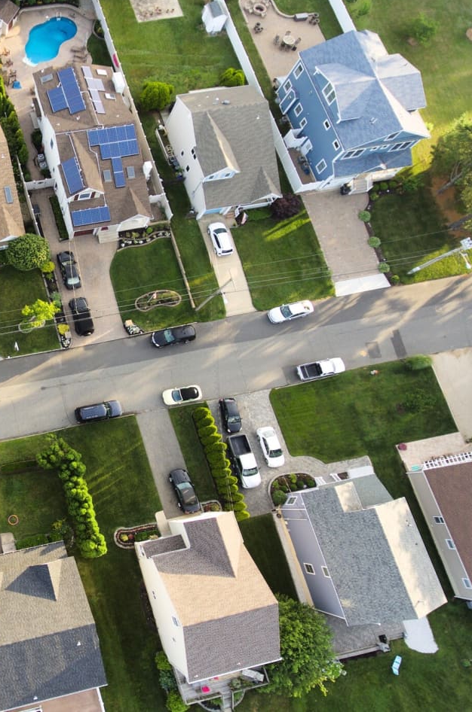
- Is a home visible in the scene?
Yes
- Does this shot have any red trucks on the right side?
No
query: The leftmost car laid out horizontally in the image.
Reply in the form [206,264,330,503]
[73,399,123,423]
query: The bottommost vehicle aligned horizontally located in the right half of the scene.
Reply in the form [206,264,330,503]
[293,355,346,383]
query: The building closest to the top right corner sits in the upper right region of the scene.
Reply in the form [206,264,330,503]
[283,19,428,200]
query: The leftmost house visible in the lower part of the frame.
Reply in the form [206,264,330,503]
[0,541,105,712]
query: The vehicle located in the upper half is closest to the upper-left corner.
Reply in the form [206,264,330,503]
[56,251,80,291]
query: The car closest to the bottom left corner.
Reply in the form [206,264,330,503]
[167,467,200,516]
